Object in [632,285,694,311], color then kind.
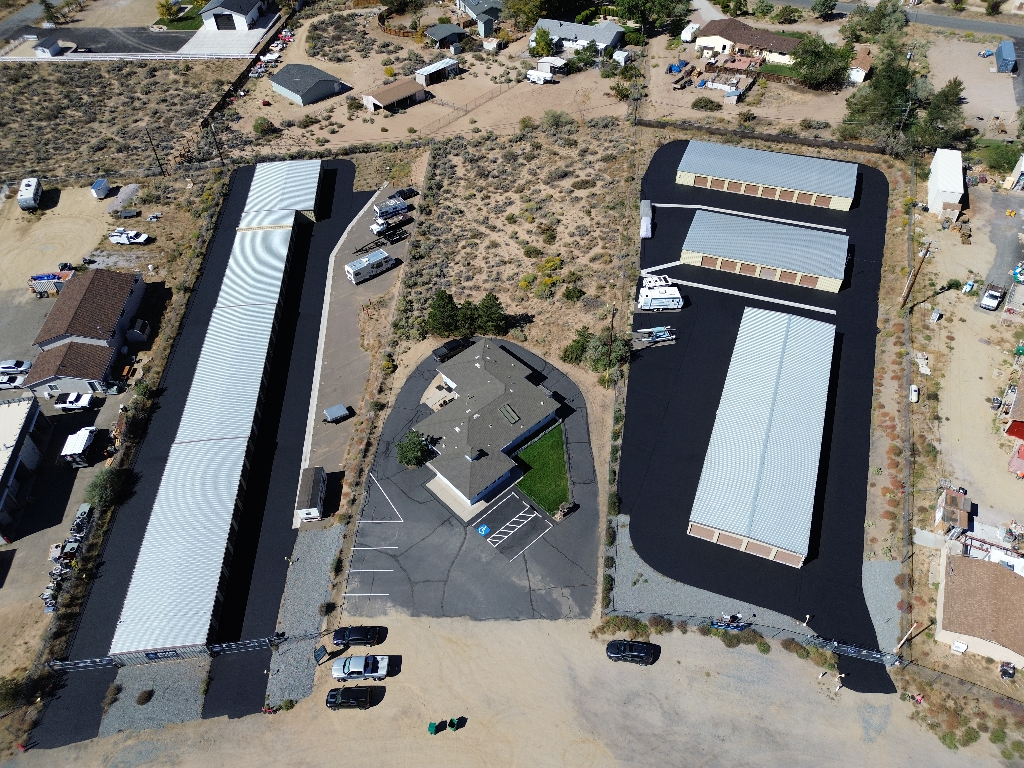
white trailer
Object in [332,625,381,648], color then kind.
black car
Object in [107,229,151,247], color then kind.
white vehicle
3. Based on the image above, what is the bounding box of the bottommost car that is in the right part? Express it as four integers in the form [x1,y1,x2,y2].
[606,639,654,667]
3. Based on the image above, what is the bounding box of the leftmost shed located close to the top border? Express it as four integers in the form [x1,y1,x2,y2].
[32,34,67,58]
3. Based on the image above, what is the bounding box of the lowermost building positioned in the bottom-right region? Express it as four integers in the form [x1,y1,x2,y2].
[937,552,1019,662]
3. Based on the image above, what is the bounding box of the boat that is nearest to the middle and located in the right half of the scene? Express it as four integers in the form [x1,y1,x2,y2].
[628,325,676,341]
